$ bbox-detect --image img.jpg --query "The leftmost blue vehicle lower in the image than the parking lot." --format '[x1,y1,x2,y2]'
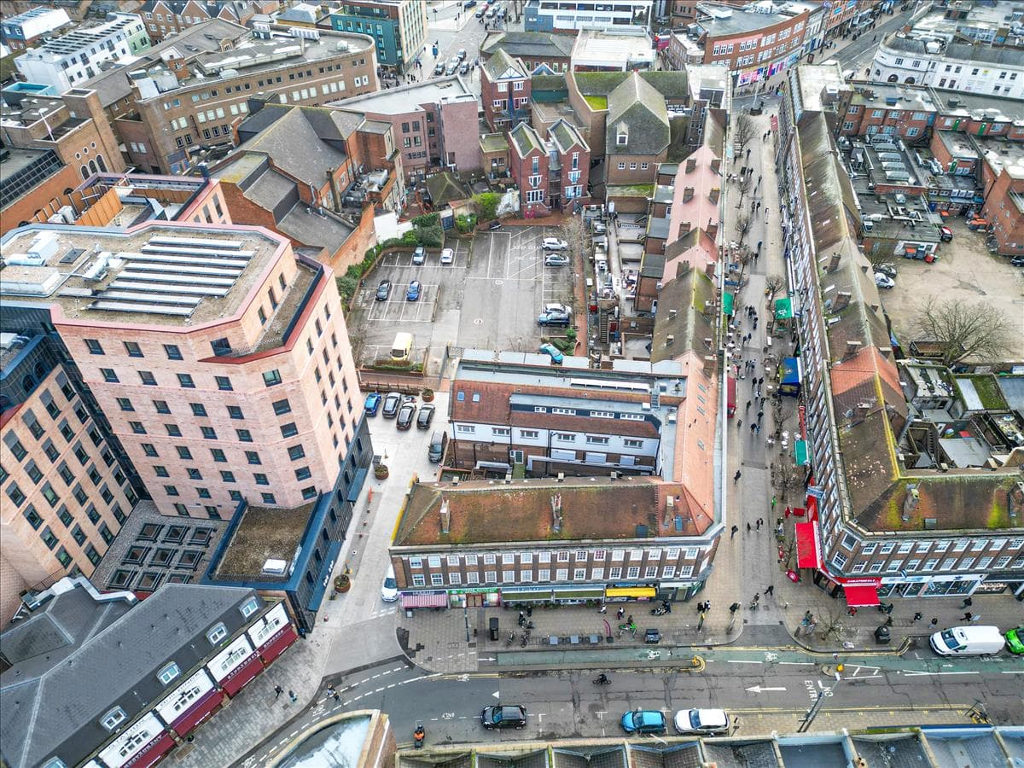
[362,392,383,418]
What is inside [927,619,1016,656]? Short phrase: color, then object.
white van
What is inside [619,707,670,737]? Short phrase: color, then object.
blue car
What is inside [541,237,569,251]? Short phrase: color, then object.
white car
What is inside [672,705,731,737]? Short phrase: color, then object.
white car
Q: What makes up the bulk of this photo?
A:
buildings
